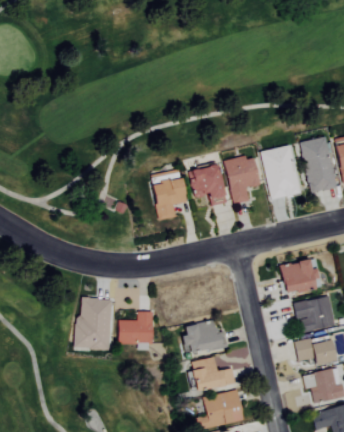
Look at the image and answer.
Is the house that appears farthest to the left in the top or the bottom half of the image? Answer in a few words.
bottom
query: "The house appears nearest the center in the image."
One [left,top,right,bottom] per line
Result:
[150,168,188,221]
